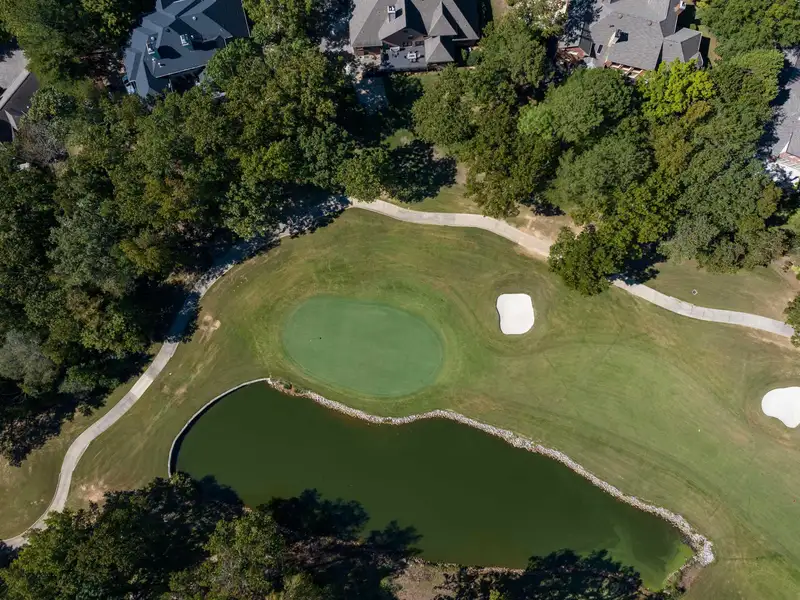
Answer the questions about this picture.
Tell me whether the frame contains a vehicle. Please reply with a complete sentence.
No, no vehicle can be seen from above.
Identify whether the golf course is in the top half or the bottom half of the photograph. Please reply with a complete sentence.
The golf course is in the bottom half of the image.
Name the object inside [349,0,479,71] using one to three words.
house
